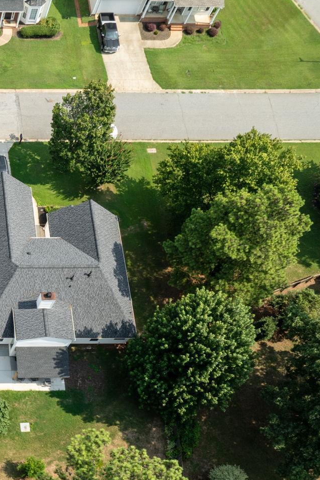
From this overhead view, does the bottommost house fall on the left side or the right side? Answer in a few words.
left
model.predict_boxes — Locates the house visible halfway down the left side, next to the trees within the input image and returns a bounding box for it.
[0,173,136,384]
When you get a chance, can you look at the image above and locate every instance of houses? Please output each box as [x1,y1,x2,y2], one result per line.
[0,0,59,32]
[87,0,225,29]
[0,173,136,384]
